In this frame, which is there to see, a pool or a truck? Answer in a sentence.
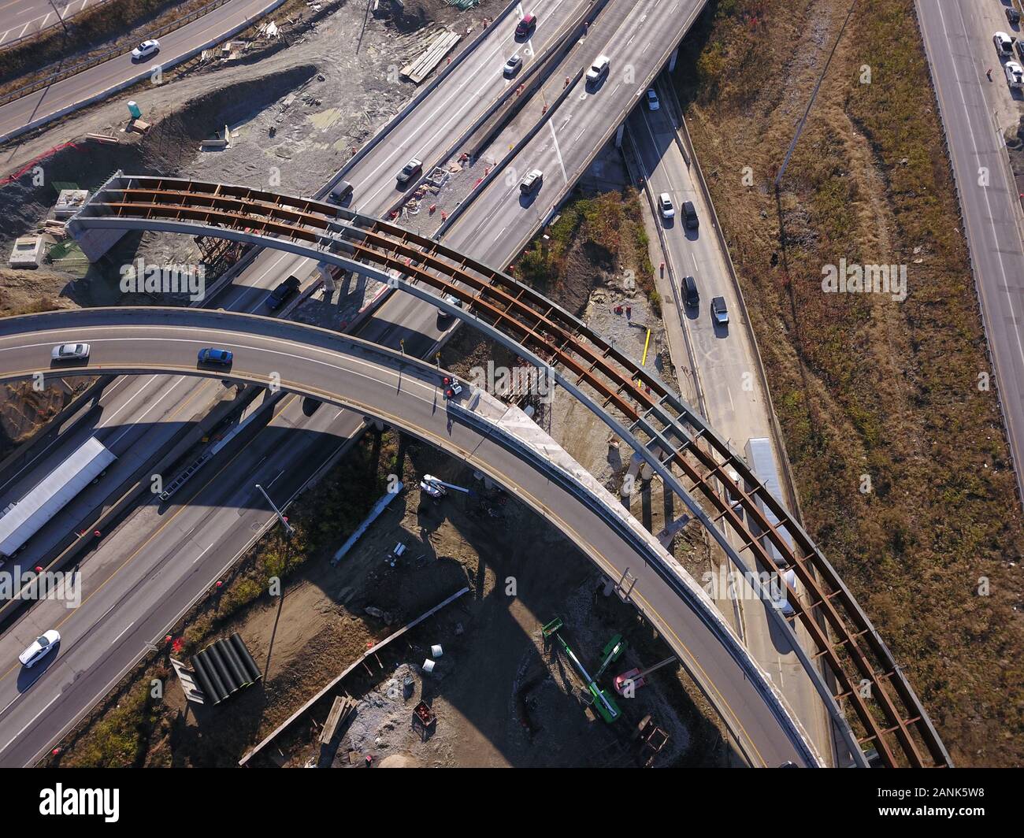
Visible in the photo is a truck.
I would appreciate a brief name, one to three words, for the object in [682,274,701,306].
vehicle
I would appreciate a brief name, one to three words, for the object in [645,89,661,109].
car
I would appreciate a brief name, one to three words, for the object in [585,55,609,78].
truck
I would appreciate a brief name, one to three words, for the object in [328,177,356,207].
van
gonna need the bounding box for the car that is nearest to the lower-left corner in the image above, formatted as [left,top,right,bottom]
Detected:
[13,630,61,672]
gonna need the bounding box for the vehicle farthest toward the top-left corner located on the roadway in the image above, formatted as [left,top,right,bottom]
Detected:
[130,39,159,57]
